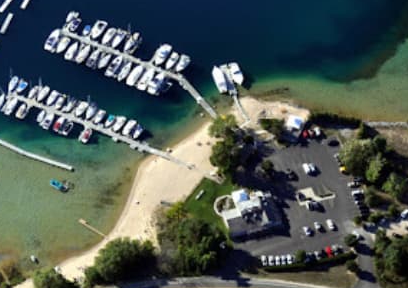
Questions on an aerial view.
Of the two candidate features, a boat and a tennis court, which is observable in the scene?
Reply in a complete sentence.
Of the two, only a boat appears.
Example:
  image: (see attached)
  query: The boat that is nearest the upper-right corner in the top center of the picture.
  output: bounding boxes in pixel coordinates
[228,62,243,86]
